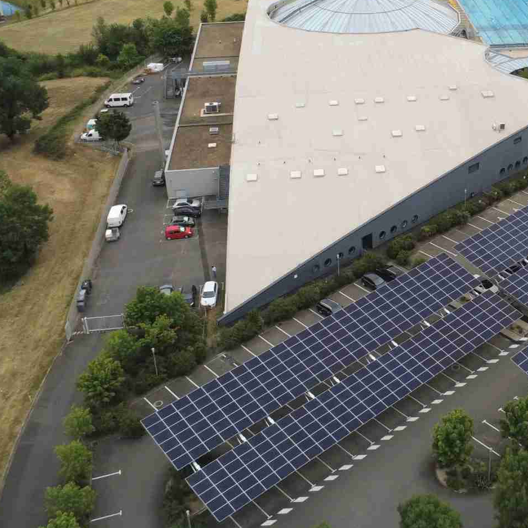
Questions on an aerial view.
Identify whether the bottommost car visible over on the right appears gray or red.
gray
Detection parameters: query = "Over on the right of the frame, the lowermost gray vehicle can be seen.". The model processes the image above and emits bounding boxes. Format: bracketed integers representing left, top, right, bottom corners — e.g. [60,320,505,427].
[315,298,344,318]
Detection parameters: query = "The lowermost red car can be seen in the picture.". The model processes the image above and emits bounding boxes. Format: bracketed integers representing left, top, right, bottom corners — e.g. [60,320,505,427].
[163,225,195,239]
